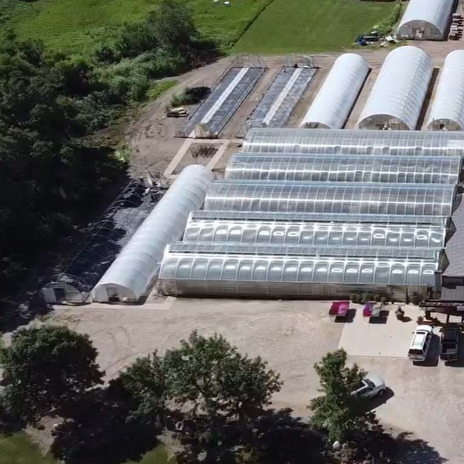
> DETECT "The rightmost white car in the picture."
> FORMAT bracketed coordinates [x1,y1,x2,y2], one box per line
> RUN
[408,325,431,364]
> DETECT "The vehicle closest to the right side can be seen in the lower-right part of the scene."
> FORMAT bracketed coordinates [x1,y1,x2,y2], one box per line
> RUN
[436,322,461,364]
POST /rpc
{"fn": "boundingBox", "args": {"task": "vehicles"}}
[408,325,431,364]
[436,322,461,364]
[358,371,399,401]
